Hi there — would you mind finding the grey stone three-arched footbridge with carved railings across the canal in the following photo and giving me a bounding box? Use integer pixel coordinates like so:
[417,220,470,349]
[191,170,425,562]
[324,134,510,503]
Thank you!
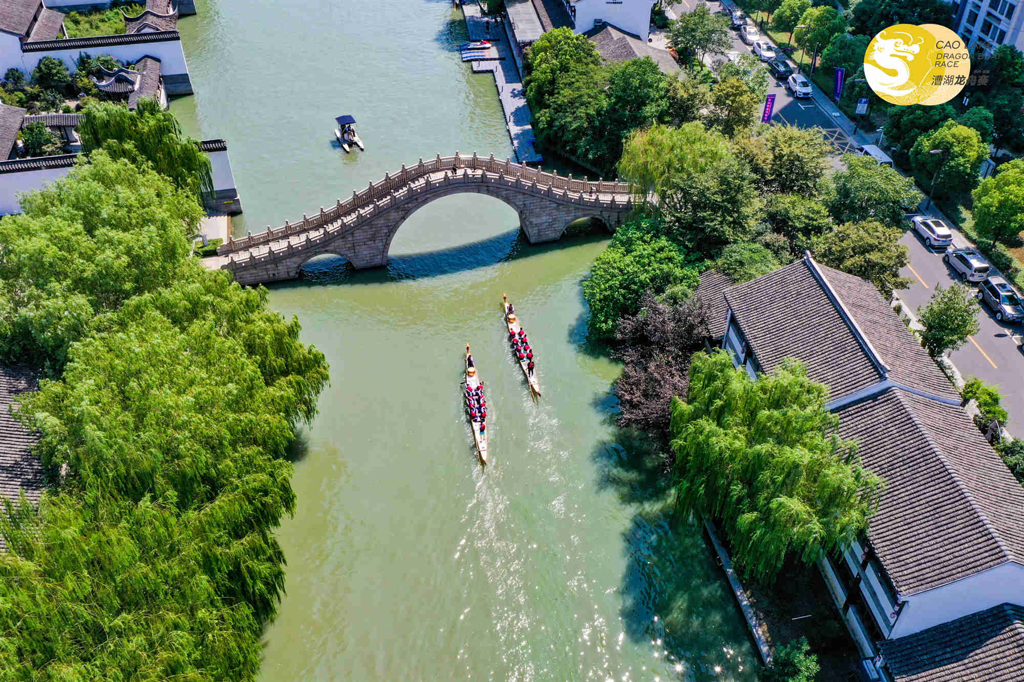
[213,147,644,285]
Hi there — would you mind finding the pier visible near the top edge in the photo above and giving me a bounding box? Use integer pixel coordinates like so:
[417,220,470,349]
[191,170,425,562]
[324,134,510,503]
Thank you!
[458,0,541,164]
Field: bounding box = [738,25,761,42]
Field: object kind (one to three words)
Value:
car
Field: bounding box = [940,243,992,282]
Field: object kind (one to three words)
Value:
car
